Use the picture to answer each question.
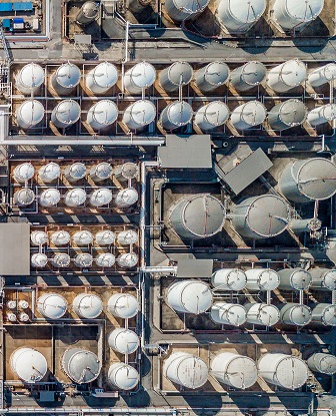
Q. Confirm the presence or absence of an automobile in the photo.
No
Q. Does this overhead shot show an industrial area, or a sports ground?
industrial area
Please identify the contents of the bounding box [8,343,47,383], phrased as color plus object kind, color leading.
white storage tank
